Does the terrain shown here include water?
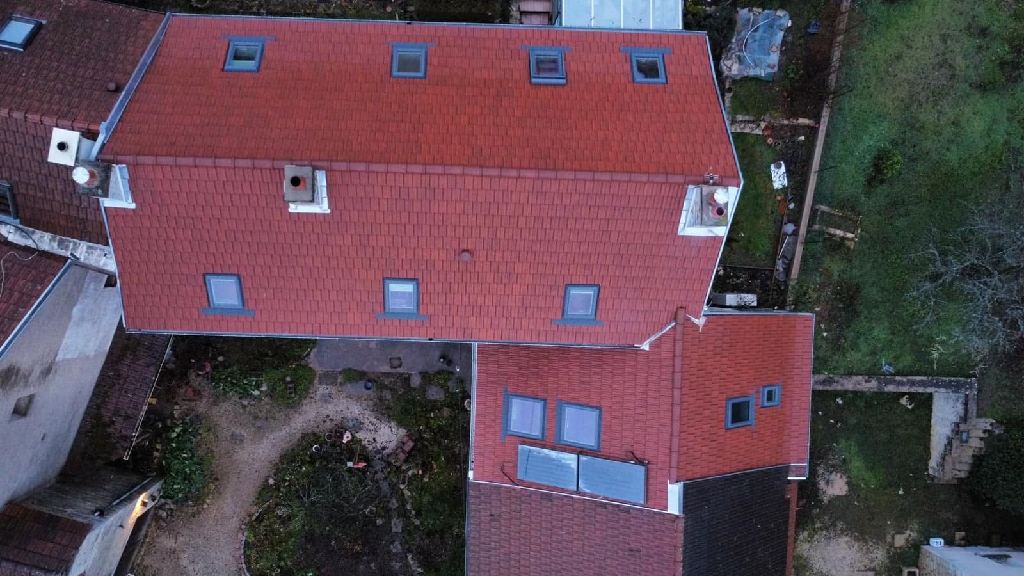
No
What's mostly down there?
buildings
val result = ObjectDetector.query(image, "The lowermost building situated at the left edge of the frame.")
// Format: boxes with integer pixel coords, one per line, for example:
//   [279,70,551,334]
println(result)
[0,463,161,576]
